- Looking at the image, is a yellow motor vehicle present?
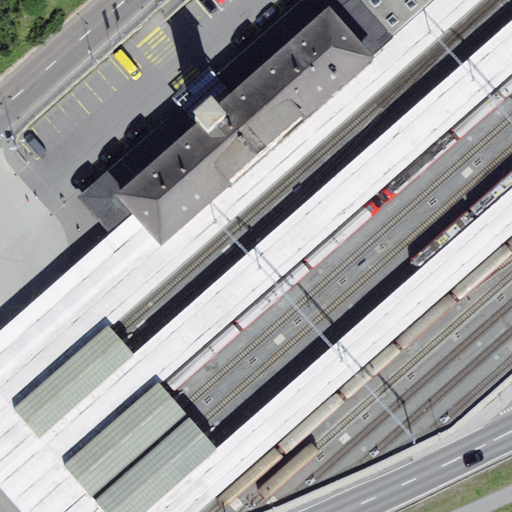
Yes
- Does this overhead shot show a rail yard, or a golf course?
rail yard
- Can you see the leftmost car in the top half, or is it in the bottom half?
top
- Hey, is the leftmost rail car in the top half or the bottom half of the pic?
bottom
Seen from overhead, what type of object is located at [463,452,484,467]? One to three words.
car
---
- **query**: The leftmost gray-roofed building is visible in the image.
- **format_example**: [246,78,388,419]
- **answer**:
[78,174,134,232]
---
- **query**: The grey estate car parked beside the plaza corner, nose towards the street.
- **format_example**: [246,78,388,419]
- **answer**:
[25,130,46,157]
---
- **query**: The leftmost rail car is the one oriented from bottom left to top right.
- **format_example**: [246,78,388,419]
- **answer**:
[168,322,242,389]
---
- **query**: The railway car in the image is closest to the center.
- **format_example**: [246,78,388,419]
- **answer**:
[236,260,312,329]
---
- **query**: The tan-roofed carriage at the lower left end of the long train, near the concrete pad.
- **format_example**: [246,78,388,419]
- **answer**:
[216,444,282,505]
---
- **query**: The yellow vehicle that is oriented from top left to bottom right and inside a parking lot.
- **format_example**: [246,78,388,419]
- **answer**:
[114,50,141,80]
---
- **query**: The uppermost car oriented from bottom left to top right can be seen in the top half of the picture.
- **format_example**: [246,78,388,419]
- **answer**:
[256,5,279,27]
